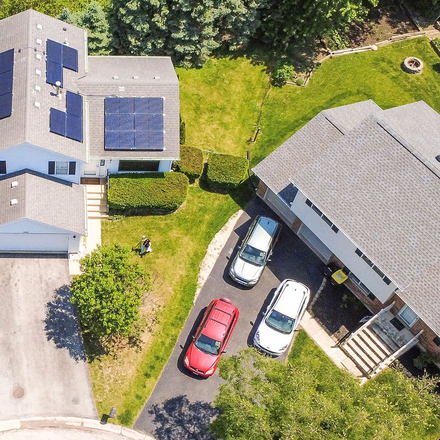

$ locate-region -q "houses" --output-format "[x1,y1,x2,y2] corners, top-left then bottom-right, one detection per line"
[0,9,180,254]
[249,99,440,379]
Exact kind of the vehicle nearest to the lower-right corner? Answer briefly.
automobile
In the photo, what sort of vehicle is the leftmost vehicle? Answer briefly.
automobile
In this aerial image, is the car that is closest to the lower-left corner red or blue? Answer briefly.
red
